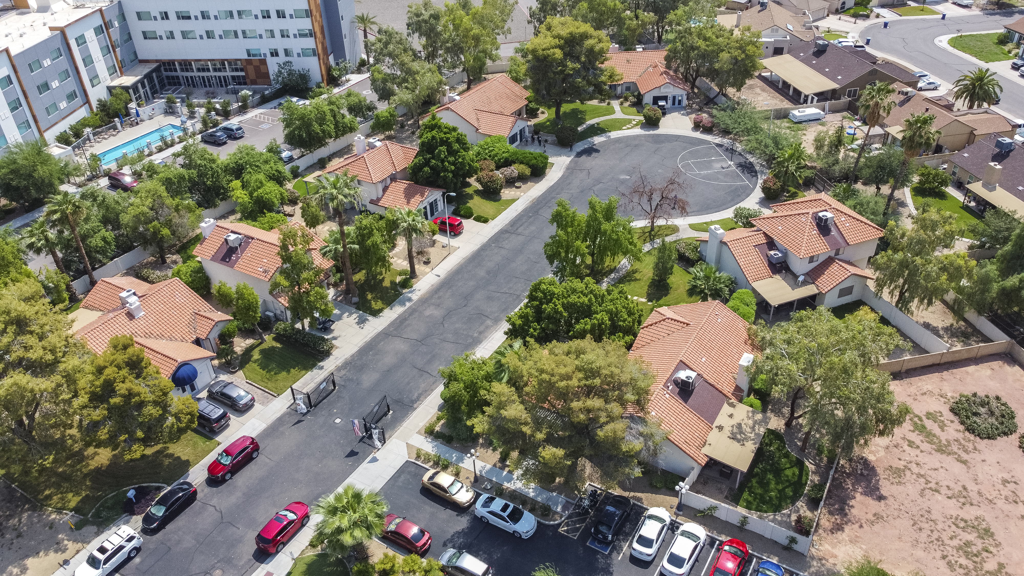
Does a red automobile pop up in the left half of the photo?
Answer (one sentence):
Yes, a red automobile shows up in the left half of the photo.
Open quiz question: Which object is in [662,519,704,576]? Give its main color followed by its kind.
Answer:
white car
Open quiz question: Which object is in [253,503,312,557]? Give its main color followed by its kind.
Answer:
red car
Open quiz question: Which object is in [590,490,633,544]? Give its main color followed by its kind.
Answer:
black car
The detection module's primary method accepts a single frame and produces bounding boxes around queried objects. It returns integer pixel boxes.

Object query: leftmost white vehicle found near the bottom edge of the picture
[70,528,142,576]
